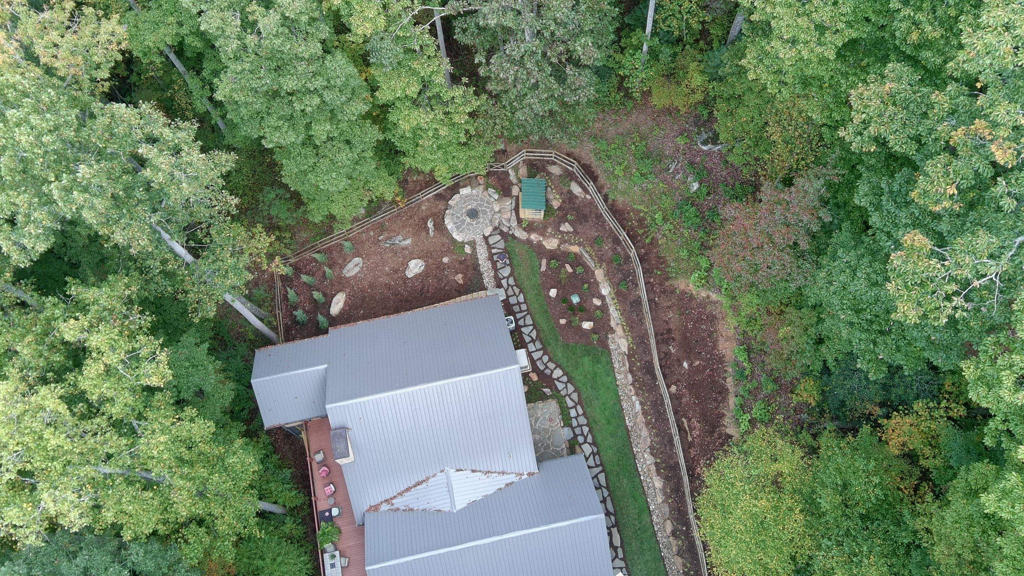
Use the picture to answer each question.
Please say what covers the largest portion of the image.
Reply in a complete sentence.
What you mostly see from above here is trees.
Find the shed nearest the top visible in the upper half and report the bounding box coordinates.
[519,178,546,220]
